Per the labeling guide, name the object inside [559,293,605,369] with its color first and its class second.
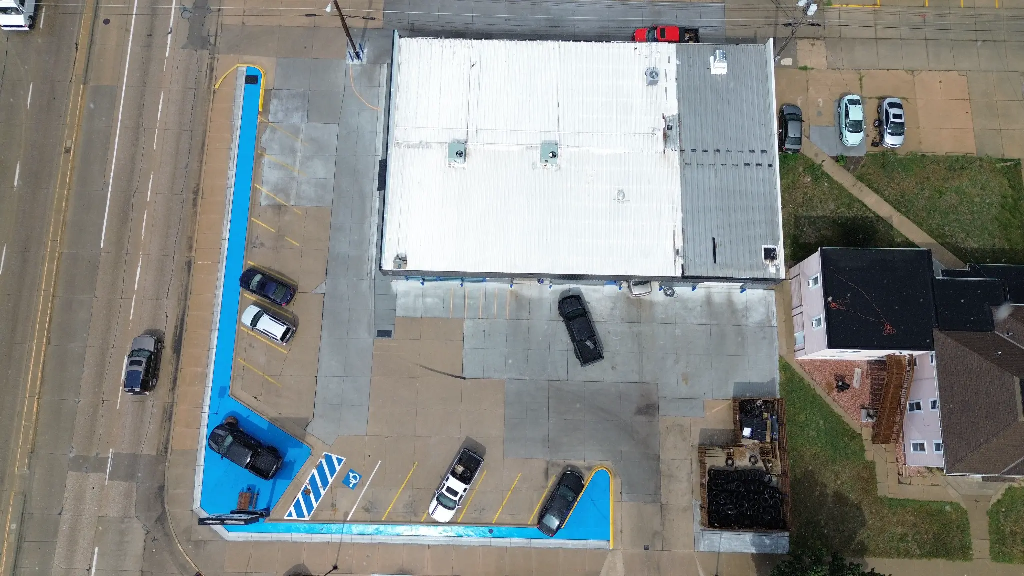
black truck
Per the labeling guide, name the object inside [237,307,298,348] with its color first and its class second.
white car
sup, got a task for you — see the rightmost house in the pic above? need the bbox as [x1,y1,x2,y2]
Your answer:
[789,249,1024,494]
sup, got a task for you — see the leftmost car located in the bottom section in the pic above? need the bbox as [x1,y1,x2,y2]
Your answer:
[121,333,159,395]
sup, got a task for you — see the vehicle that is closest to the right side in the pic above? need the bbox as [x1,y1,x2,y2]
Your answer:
[880,96,910,150]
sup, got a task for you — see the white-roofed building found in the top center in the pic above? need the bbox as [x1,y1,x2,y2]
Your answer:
[377,22,787,290]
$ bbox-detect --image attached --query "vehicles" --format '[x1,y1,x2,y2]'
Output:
[121,333,159,395]
[880,96,910,150]
[431,448,486,527]
[536,469,584,537]
[629,22,701,41]
[837,93,868,149]
[779,105,808,154]
[238,271,298,305]
[237,307,298,348]
[205,424,286,484]
[0,0,33,31]
[559,293,605,369]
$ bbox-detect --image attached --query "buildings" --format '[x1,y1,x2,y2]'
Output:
[377,22,787,290]
[789,249,1024,494]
